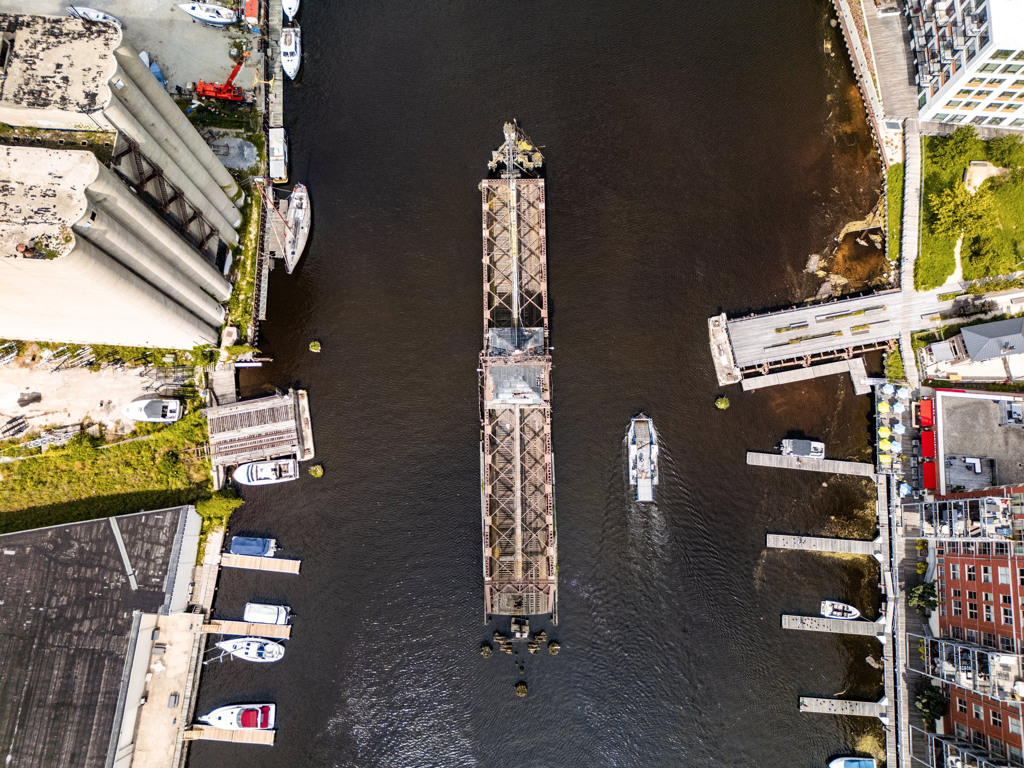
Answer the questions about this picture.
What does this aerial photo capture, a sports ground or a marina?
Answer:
marina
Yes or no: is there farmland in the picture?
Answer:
No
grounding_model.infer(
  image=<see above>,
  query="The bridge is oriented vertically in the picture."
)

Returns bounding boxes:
[475,142,558,637]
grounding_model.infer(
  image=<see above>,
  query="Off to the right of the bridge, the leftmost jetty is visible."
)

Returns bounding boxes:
[704,313,742,388]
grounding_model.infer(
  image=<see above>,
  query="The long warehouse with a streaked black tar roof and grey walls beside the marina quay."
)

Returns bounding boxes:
[0,505,202,768]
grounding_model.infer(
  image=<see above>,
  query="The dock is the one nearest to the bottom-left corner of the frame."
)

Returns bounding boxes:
[195,723,277,747]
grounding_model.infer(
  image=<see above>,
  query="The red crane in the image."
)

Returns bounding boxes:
[194,50,250,107]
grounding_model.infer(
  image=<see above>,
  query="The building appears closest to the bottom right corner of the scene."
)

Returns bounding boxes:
[904,478,1024,768]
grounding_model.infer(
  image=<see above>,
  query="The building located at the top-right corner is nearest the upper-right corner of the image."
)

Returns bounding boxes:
[893,0,1024,126]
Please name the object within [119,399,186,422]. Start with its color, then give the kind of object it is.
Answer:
white boat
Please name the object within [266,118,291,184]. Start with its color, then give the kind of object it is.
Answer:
white boat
